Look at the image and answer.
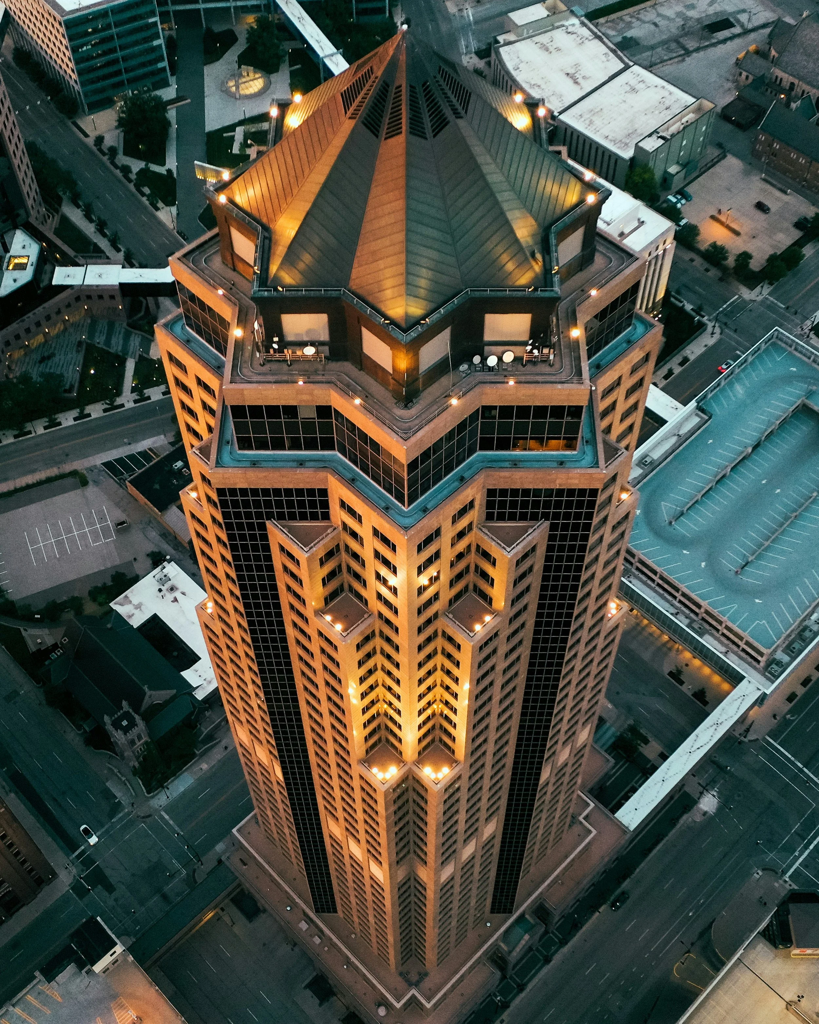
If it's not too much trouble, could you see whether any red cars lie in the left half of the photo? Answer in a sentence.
No, no red car is visible in the left half of the photo.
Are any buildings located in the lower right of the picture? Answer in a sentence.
Yes, I can see a building in the lower right of the picture.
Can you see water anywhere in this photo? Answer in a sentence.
No, no water is visible.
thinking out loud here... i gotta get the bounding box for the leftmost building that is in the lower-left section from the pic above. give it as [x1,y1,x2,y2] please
[0,803,55,922]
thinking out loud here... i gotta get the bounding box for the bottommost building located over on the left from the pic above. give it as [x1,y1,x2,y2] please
[1,918,186,1024]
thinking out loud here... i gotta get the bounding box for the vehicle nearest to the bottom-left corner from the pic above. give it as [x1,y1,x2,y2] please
[77,819,103,846]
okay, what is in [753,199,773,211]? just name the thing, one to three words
vehicle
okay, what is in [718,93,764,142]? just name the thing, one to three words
building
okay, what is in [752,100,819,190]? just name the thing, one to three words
building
